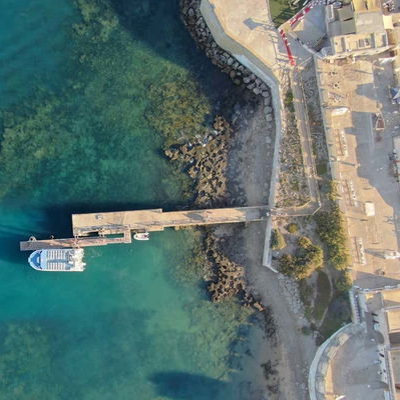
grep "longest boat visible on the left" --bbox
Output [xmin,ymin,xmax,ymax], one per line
[29,248,86,272]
